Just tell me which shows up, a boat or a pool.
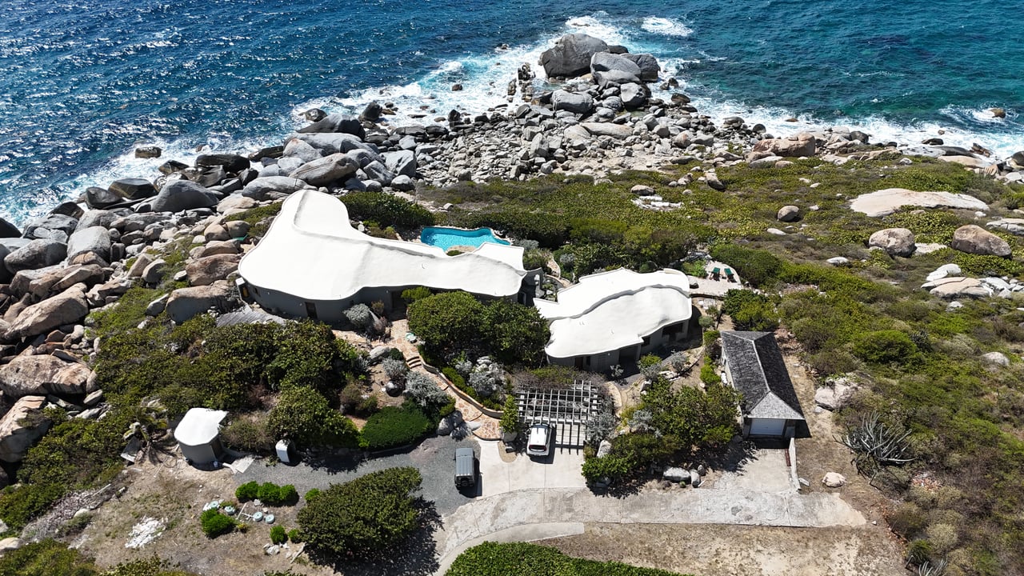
pool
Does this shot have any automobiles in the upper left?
No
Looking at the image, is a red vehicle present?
No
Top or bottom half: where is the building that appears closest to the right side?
bottom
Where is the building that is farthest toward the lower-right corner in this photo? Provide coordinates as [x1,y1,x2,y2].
[722,331,805,434]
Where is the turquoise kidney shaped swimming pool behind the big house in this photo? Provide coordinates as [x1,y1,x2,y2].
[417,224,514,256]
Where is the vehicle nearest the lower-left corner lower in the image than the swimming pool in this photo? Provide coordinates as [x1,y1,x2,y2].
[452,446,478,487]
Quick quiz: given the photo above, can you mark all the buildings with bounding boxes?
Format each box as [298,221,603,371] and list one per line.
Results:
[534,260,692,380]
[722,331,805,434]
[175,408,230,466]
[239,191,525,326]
